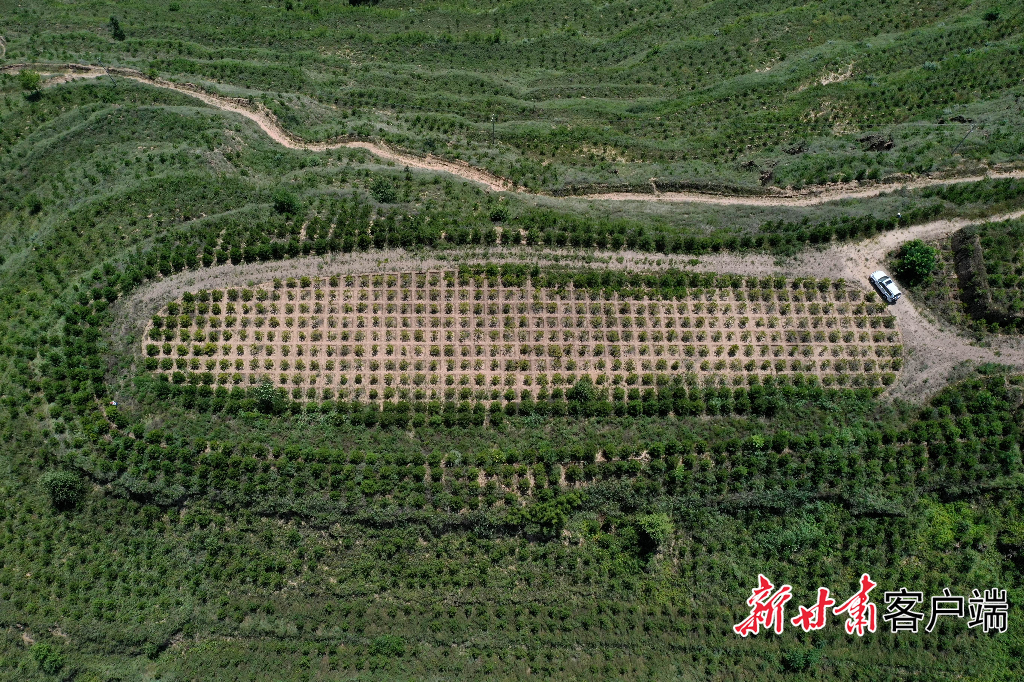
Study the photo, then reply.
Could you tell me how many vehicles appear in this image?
1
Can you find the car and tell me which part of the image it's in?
right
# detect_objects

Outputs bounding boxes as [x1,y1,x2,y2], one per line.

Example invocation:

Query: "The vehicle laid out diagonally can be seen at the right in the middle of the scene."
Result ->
[868,269,905,302]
